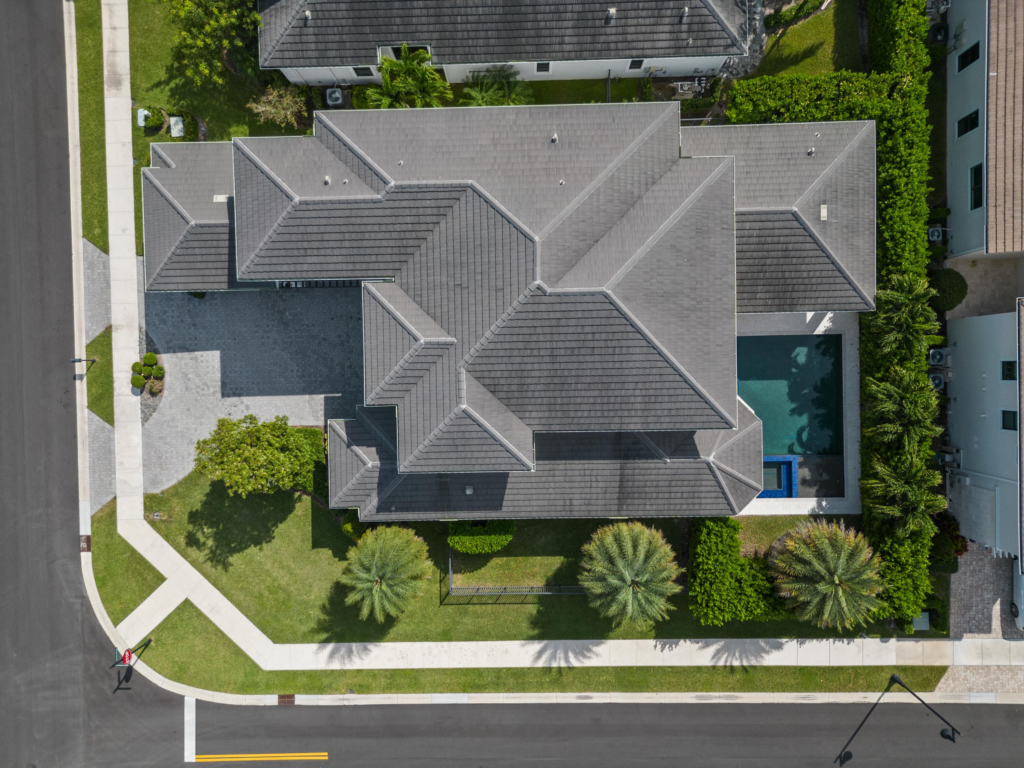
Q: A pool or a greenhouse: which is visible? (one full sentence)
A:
I can see a pool in this picture.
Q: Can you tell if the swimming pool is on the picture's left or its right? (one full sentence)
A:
The swimming pool is on the right side of the image.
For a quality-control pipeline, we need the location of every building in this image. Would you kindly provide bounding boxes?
[141,101,876,521]
[258,0,748,87]
[948,298,1024,575]
[946,0,1024,260]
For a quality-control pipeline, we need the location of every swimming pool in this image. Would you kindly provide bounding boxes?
[738,328,851,505]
